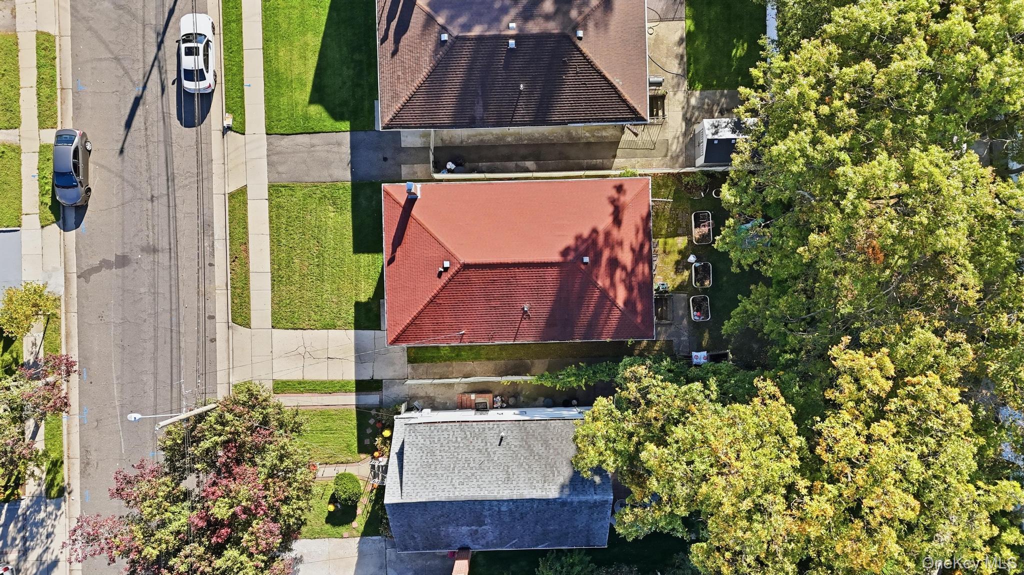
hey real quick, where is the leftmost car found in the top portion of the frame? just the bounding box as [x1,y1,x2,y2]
[50,127,91,206]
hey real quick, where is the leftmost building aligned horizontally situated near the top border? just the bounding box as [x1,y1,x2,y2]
[374,0,651,132]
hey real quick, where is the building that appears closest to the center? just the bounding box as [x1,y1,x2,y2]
[380,174,657,348]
